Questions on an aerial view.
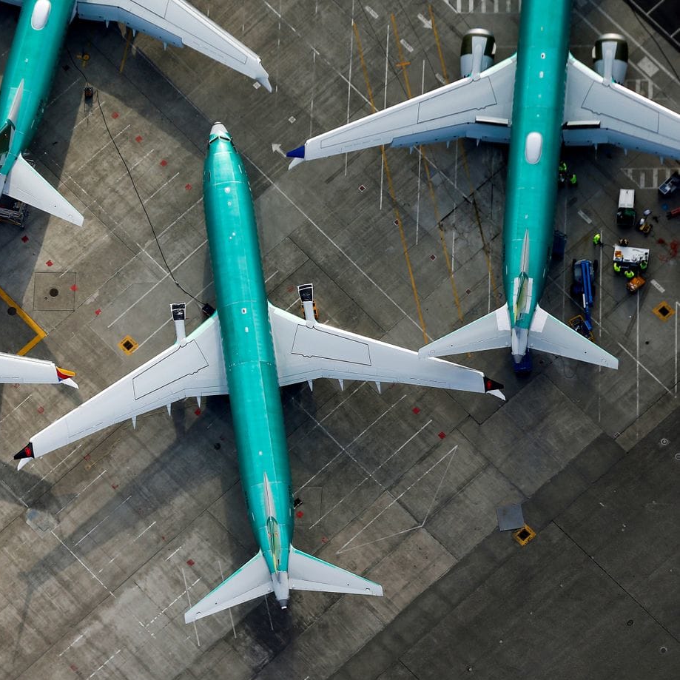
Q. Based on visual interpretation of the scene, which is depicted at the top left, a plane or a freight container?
plane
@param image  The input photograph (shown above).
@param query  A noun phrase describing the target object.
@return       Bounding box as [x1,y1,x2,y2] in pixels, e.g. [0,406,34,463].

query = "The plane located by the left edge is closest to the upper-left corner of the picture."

[0,0,269,222]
